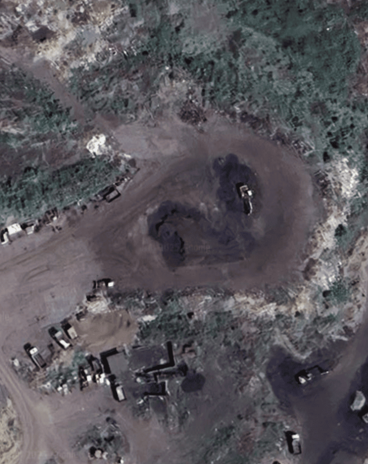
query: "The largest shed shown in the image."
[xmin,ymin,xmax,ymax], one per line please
[107,351,130,375]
